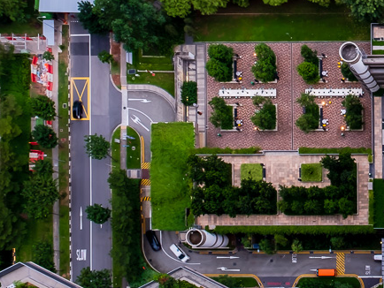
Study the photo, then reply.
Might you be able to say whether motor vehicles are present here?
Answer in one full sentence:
Yes, there's a motor vehicle here.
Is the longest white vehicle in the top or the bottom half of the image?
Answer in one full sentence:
The longest white vehicle sits in the bottom half of the picture.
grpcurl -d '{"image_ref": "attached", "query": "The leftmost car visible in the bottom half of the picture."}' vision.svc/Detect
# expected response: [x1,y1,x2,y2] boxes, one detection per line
[145,229,163,252]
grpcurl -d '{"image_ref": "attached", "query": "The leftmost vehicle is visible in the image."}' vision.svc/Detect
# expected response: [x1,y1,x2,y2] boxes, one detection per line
[72,99,84,121]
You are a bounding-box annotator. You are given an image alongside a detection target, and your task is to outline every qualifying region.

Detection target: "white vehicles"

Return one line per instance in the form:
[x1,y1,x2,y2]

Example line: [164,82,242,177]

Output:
[168,241,192,263]
[373,253,381,263]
